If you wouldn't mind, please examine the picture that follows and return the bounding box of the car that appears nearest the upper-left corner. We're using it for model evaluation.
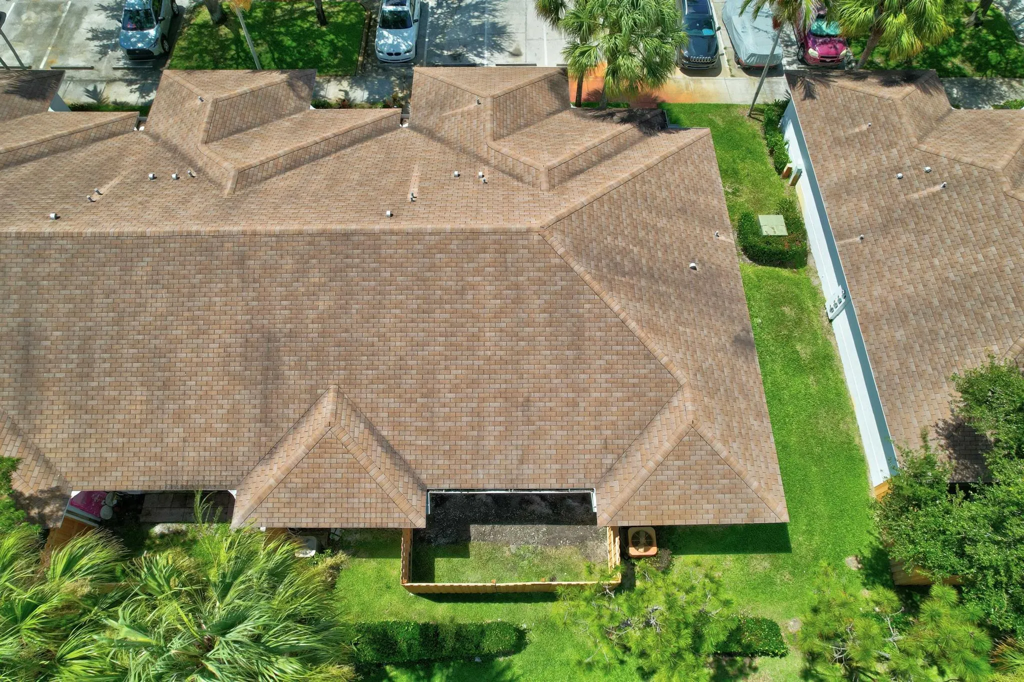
[118,0,188,58]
